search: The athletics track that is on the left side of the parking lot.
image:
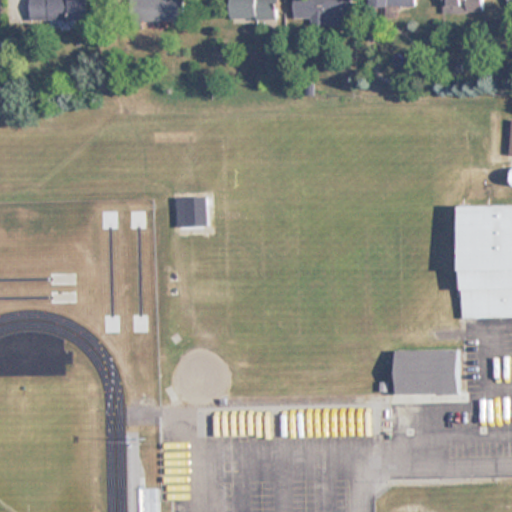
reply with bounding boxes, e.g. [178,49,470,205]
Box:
[0,310,127,512]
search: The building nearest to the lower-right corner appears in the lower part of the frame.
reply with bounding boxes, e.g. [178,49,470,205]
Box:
[392,348,458,394]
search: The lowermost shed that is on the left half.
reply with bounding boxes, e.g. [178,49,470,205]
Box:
[176,198,208,227]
